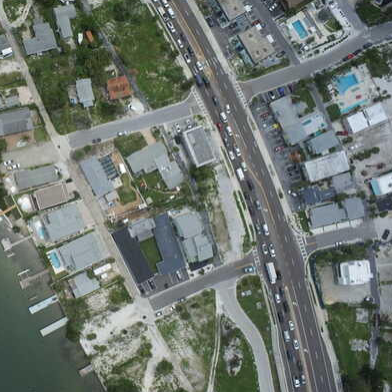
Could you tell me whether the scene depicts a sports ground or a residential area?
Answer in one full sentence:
This image shows a residential area.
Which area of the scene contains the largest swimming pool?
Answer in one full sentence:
Look in the top right portion of the view to spot the largest swimming pool.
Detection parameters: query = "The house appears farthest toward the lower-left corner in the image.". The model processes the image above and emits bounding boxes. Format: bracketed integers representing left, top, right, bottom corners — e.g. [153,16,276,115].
[69,272,100,297]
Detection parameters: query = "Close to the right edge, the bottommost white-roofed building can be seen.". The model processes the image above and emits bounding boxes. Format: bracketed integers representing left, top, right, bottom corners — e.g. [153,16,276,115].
[331,259,374,286]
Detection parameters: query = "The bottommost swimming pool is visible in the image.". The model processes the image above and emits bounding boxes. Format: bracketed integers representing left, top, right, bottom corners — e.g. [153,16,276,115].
[47,250,65,274]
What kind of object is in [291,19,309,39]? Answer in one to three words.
swimming pool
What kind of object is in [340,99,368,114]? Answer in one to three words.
swimming pool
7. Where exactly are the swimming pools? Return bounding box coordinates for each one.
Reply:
[340,99,368,114]
[291,19,309,39]
[47,250,65,274]
[32,218,49,244]
[330,65,378,114]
